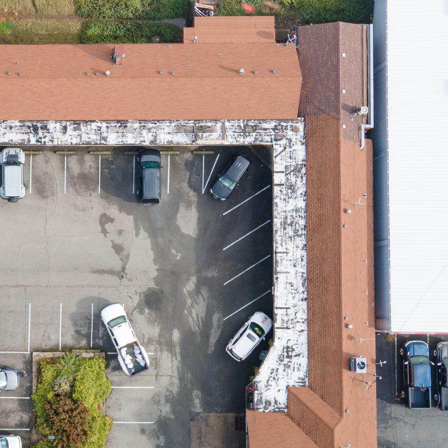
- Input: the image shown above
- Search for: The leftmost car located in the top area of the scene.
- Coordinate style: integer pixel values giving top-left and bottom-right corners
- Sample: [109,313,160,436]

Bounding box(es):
[0,149,26,204]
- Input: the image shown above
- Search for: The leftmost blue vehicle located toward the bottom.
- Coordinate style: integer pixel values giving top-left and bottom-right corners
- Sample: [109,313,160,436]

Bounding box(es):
[399,339,433,411]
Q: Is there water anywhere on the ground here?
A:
No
